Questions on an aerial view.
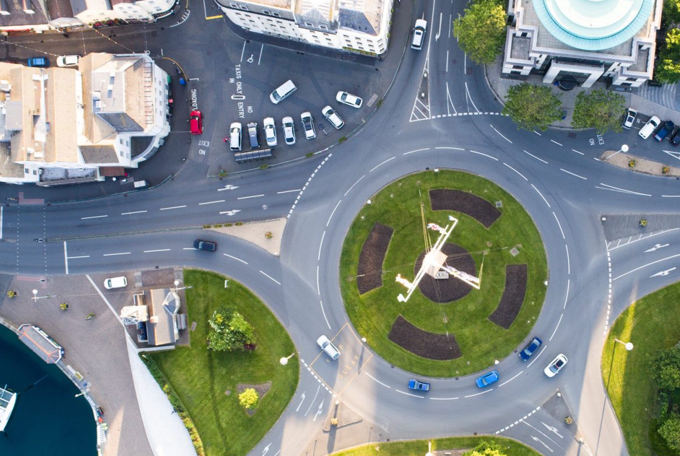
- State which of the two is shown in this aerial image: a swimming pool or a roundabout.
roundabout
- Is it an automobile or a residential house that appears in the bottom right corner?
automobile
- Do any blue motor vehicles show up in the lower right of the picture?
Yes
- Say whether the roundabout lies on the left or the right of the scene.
right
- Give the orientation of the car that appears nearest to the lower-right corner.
diagonally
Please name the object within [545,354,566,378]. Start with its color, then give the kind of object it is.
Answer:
white car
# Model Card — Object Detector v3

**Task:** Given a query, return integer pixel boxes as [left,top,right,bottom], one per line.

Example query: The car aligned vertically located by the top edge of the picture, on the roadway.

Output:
[413,20,427,49]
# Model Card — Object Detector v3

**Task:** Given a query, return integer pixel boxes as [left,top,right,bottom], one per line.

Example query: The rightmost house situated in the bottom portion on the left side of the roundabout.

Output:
[115,288,186,346]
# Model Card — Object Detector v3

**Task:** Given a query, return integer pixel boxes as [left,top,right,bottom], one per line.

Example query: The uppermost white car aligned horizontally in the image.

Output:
[55,54,81,67]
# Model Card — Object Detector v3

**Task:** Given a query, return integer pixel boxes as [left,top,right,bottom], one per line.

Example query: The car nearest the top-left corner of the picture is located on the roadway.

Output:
[26,55,50,68]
